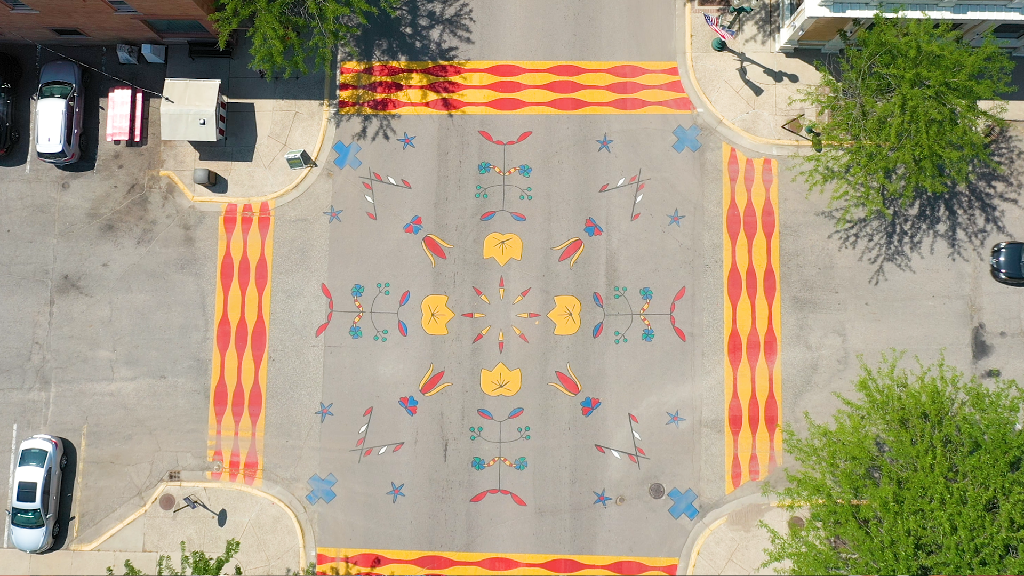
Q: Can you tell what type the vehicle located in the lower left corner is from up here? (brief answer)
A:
car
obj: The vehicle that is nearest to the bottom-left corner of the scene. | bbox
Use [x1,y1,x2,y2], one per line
[3,430,69,552]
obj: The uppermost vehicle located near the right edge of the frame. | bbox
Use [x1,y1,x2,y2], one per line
[987,242,1024,285]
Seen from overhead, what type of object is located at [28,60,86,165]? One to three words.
car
